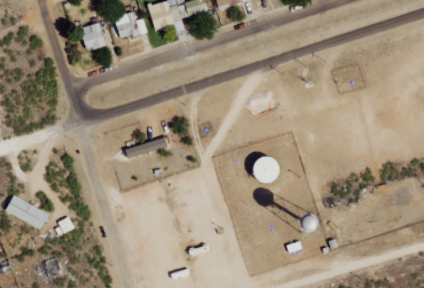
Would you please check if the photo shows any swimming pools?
No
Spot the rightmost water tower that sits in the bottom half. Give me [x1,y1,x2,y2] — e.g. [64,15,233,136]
[294,212,320,236]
